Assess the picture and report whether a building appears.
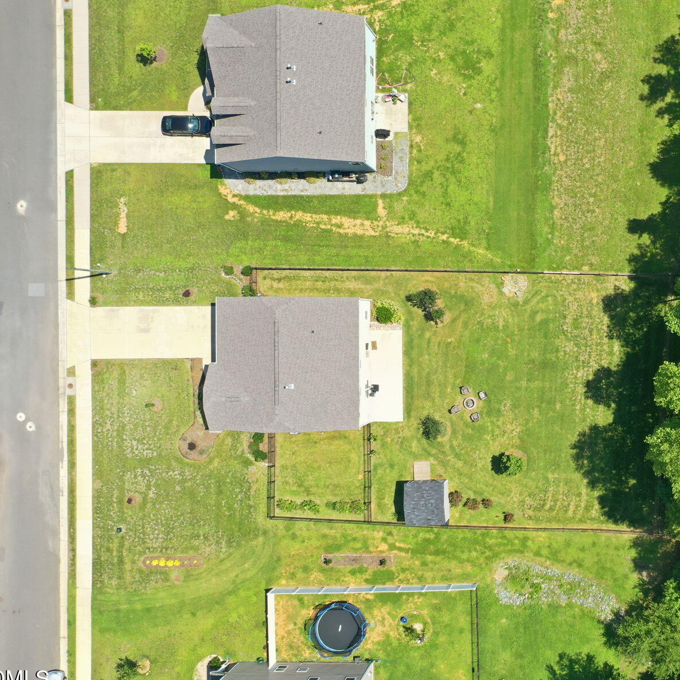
Yes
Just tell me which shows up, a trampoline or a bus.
trampoline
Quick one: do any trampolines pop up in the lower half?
Yes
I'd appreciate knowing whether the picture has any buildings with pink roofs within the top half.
No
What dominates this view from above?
grass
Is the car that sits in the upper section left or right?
left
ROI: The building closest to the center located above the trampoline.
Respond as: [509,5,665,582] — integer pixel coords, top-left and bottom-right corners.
[202,296,375,433]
